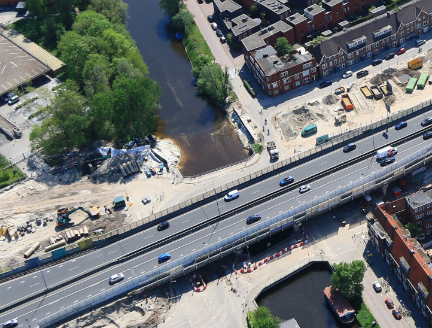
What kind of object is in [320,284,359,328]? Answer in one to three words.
boat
